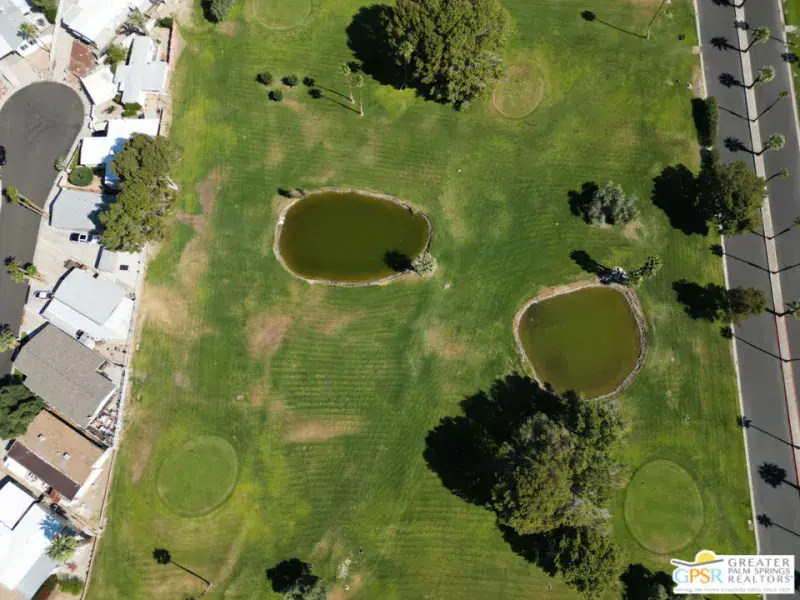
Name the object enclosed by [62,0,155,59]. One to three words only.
house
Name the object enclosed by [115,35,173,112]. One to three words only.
house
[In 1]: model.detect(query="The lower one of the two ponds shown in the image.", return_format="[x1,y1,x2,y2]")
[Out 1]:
[516,279,648,405]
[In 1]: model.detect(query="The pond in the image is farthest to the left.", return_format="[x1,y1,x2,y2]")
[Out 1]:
[276,188,432,287]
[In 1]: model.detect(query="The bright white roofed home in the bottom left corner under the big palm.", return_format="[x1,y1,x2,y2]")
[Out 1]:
[0,481,69,600]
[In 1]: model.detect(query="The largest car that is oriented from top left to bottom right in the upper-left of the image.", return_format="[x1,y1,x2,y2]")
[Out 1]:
[66,27,90,46]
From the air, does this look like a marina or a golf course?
golf course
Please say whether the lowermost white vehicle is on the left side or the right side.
left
